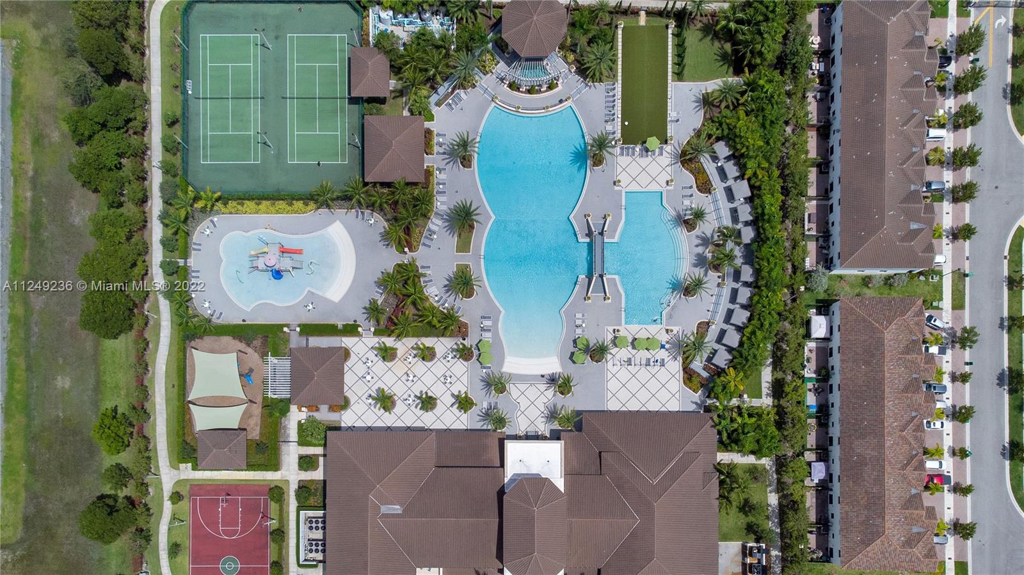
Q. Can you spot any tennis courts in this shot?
Yes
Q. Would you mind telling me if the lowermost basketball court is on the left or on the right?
left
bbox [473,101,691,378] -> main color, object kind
blue swimming pool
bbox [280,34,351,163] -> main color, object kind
green tennis court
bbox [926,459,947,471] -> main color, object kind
white vehicle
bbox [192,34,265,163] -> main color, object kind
green tennis court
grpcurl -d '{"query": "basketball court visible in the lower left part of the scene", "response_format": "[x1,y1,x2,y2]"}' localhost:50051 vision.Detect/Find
[190,484,269,575]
